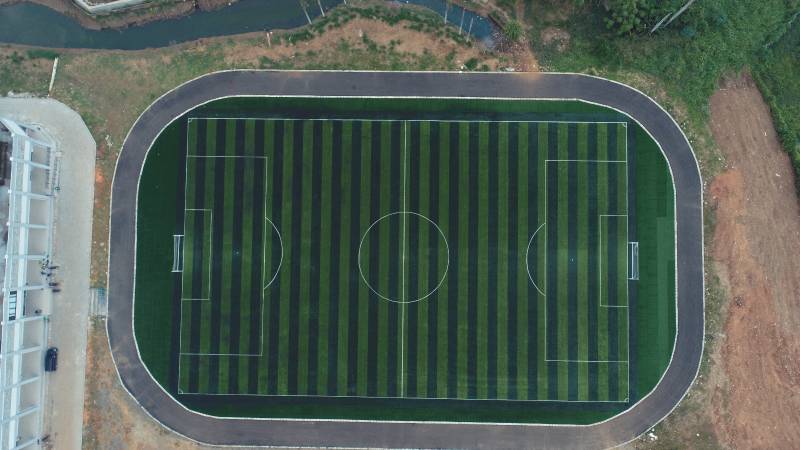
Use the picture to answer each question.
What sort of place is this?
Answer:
sports ground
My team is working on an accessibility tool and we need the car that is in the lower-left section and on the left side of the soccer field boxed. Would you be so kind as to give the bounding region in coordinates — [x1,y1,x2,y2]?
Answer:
[45,348,59,373]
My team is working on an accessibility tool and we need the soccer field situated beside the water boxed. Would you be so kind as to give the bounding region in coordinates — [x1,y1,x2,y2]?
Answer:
[134,96,677,425]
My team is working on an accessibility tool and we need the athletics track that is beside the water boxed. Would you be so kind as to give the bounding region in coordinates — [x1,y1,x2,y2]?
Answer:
[106,70,705,450]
